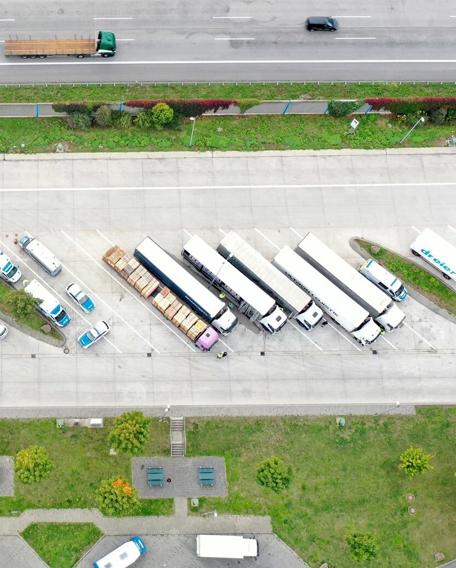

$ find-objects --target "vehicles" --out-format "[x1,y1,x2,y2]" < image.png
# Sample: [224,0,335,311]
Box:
[408,230,456,284]
[272,246,381,347]
[23,279,69,328]
[293,232,405,333]
[304,16,339,34]
[78,319,111,350]
[65,282,97,315]
[216,230,325,331]
[358,257,406,303]
[5,33,116,61]
[0,251,22,284]
[19,236,63,280]
[94,535,146,568]
[194,535,260,561]
[0,322,11,340]
[133,236,240,337]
